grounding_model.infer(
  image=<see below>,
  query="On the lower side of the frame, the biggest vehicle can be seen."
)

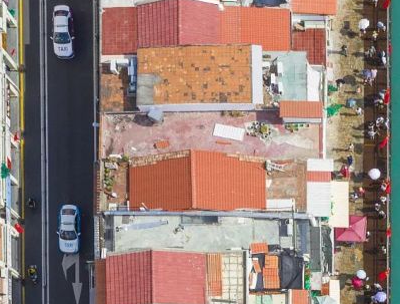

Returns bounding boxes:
[57,204,84,255]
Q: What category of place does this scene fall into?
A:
residential area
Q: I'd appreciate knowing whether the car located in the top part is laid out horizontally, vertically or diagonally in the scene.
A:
vertically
